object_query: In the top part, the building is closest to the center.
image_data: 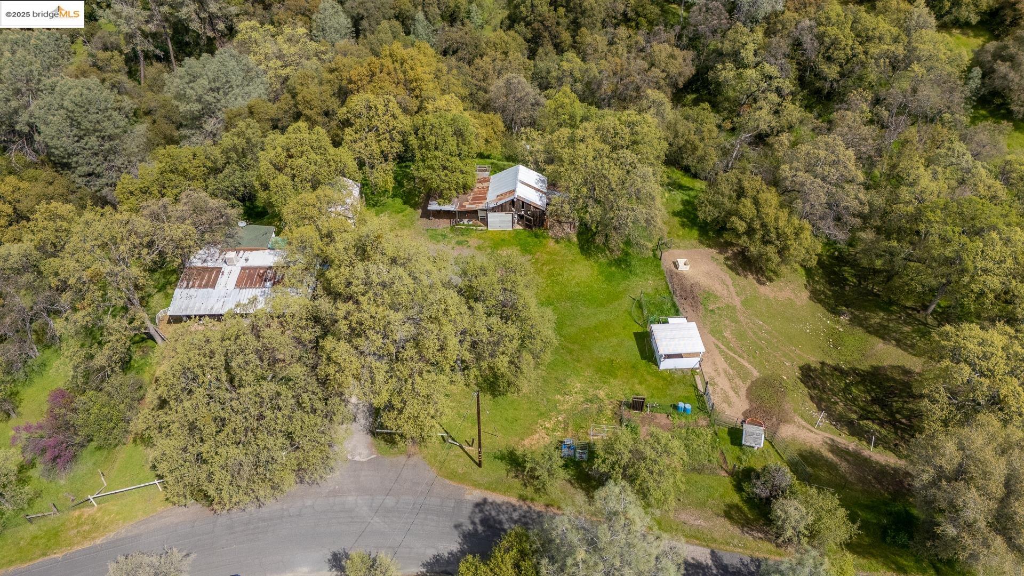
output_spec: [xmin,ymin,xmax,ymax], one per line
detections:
[429,162,564,234]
